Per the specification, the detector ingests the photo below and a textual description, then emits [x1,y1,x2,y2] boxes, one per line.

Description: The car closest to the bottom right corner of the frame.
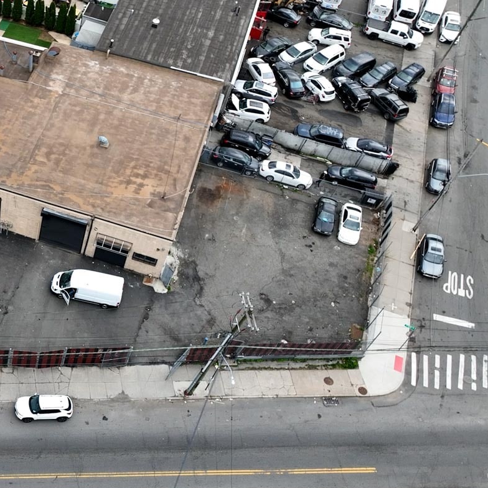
[416,232,448,281]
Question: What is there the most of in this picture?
paved ground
